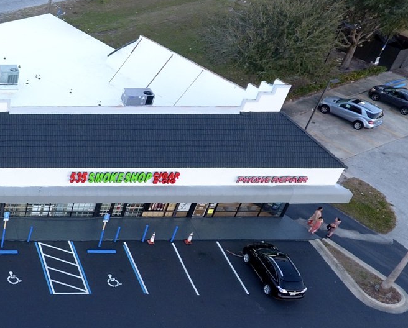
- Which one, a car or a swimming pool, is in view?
car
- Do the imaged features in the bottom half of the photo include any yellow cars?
No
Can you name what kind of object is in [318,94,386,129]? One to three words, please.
car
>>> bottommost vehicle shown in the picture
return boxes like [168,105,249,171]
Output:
[246,243,311,301]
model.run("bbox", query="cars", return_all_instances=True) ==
[368,82,408,115]
[318,94,386,129]
[246,243,311,301]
